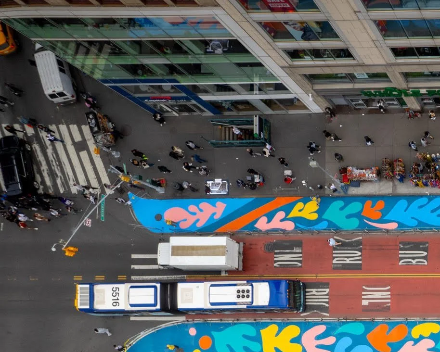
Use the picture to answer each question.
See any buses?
Yes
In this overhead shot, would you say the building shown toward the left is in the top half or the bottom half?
top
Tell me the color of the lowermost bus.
white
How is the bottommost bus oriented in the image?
horizontally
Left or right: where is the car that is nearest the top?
left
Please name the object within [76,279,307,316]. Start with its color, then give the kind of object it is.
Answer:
white bus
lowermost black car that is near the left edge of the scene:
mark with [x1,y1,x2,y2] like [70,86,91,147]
[0,139,44,205]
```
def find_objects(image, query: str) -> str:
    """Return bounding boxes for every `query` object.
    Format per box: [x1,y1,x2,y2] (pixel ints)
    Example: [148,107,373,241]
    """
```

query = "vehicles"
[76,279,307,316]
[33,44,86,107]
[0,23,28,62]
[0,139,44,205]
[162,236,246,273]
